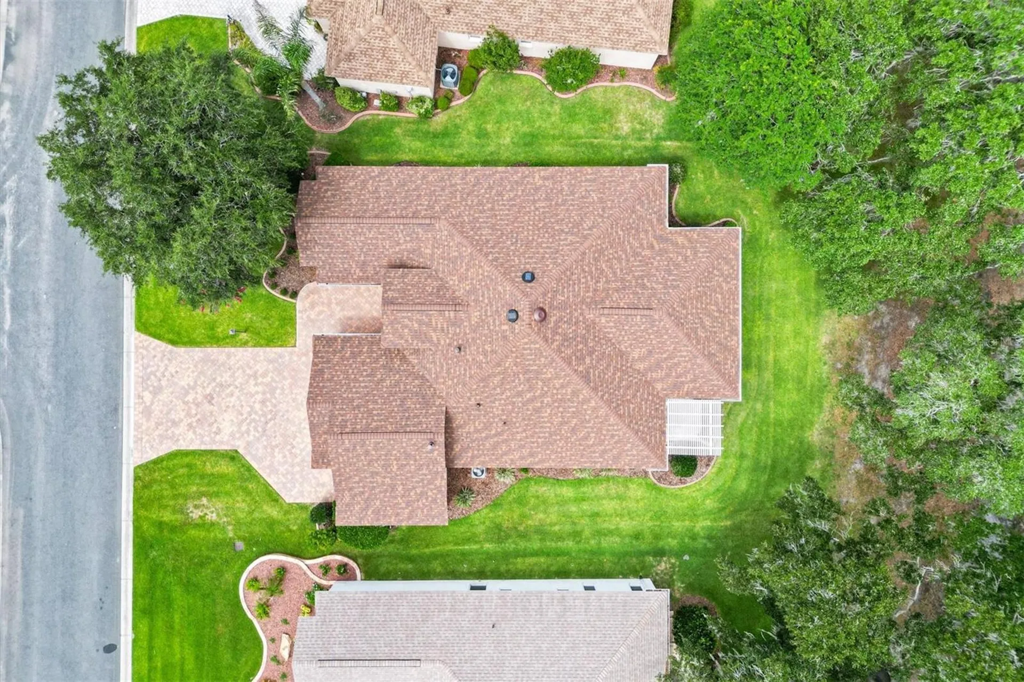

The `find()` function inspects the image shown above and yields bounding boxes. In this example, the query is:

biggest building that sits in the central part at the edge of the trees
[292,164,744,525]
